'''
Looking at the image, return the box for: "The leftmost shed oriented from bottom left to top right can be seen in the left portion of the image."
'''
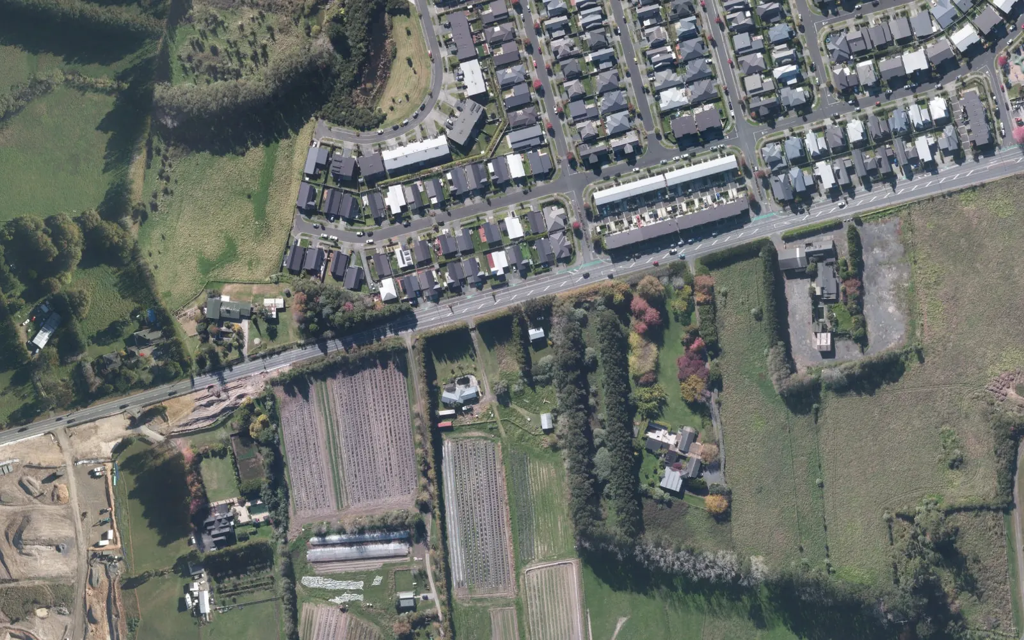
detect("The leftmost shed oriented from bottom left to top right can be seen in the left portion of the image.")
[33,315,59,346]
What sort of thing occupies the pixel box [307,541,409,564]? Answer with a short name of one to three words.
greenhouse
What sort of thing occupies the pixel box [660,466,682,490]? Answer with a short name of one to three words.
shed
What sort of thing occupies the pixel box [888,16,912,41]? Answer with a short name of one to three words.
house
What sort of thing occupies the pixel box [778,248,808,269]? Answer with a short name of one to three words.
building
